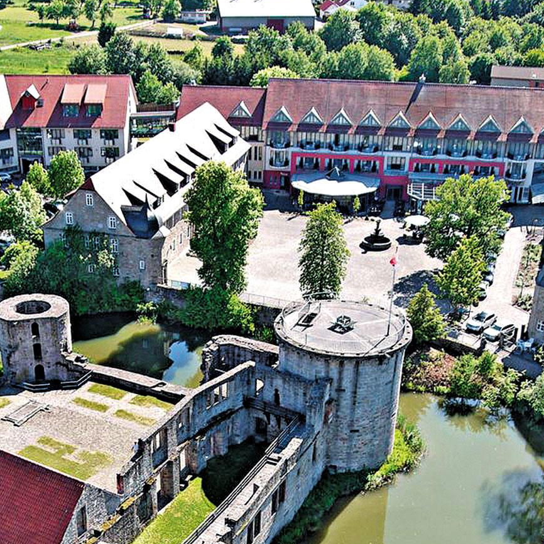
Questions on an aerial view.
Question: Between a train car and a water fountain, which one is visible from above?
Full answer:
There is a water fountain in the scene.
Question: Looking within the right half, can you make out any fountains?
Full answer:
Yes, a fountain can be seen within the right half.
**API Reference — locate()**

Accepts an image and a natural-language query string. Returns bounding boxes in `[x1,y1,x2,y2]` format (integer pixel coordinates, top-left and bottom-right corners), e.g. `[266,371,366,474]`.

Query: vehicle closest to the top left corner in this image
[64,15,79,28]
